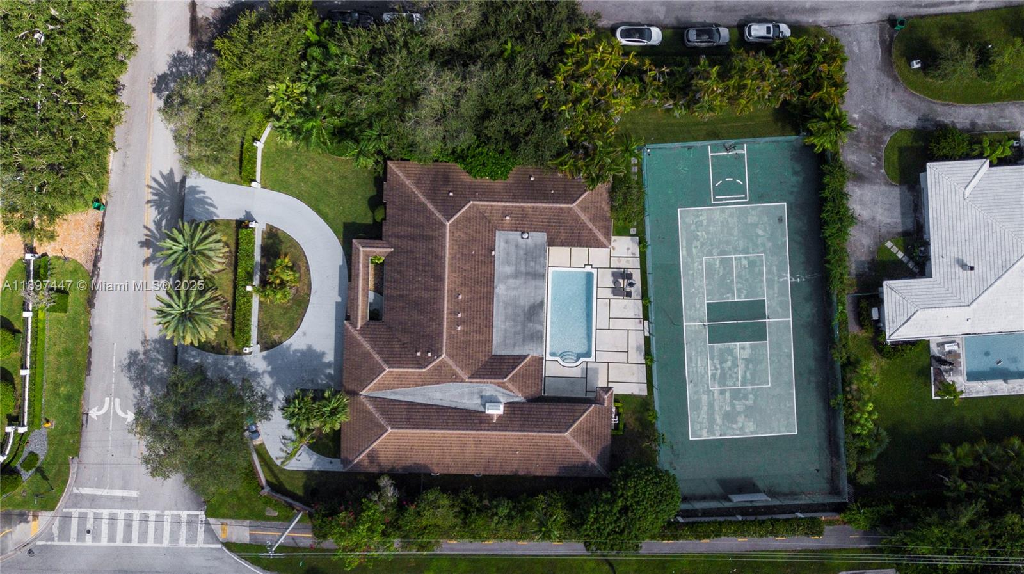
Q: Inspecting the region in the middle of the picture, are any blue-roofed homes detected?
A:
No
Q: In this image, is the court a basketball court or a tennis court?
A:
tennis court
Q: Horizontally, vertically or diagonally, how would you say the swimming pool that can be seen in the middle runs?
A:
vertically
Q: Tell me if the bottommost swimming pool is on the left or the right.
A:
right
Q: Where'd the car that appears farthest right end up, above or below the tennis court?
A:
above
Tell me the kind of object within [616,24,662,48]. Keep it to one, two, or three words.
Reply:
car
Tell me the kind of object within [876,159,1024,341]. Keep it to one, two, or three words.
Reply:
house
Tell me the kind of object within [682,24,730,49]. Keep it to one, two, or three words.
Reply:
car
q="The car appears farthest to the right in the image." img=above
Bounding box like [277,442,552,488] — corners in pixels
[744,20,792,46]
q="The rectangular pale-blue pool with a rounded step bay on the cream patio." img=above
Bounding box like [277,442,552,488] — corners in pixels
[546,265,597,367]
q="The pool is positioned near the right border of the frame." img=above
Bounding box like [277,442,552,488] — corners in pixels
[963,334,1024,385]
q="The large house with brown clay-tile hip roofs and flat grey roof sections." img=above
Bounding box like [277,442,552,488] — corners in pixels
[340,160,614,478]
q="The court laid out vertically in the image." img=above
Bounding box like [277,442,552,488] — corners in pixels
[645,142,832,501]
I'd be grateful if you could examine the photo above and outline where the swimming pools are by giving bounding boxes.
[963,334,1024,385]
[546,265,597,367]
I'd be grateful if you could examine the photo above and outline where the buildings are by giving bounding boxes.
[340,160,614,478]
[876,159,1024,341]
